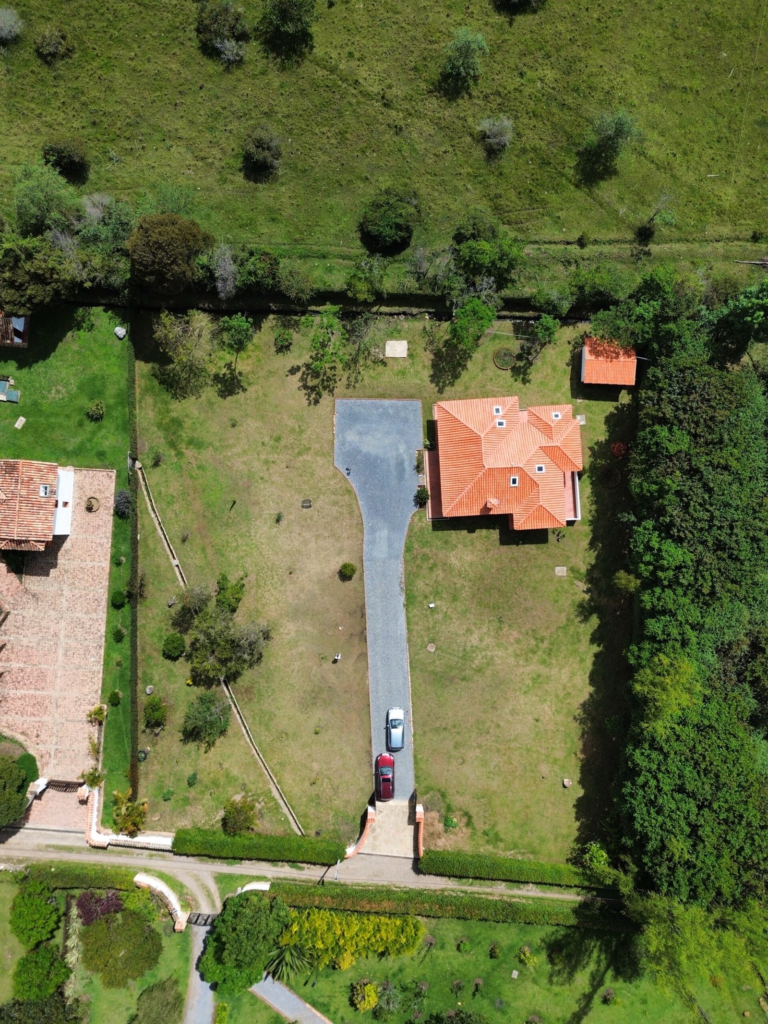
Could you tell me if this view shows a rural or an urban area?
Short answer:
rural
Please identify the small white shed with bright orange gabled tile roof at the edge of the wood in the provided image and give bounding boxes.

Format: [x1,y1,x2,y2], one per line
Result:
[576,338,650,386]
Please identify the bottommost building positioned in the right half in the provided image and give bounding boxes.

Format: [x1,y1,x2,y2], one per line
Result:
[423,395,584,530]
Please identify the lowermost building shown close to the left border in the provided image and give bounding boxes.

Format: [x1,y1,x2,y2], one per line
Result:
[0,459,77,551]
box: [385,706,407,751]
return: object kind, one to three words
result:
car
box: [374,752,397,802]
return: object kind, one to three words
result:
car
